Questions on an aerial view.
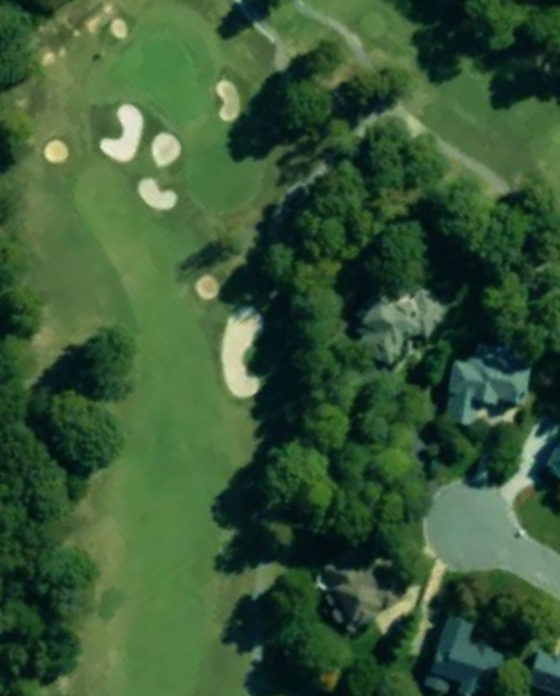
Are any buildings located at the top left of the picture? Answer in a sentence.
No, there's no building to be seen at the top left of the picture.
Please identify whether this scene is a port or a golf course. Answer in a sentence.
This image shows a golf course.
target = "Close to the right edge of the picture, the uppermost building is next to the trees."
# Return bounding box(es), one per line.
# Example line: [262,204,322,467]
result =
[447,345,535,425]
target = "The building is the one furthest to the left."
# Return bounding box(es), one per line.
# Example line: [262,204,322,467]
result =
[315,560,394,637]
